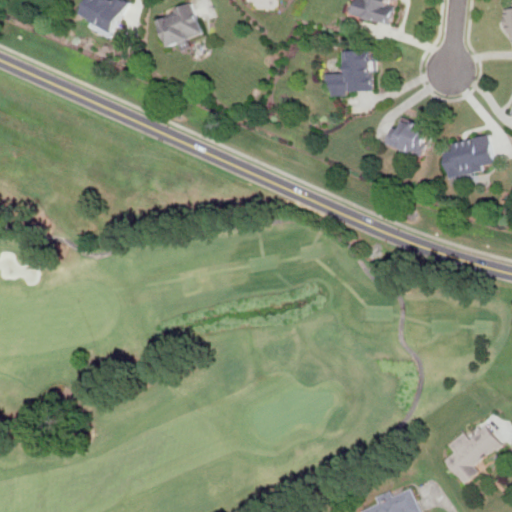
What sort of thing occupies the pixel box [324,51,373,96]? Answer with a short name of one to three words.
house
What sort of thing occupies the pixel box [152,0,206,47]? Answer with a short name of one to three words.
house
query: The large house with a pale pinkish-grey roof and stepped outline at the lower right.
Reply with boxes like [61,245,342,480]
[444,424,502,486]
